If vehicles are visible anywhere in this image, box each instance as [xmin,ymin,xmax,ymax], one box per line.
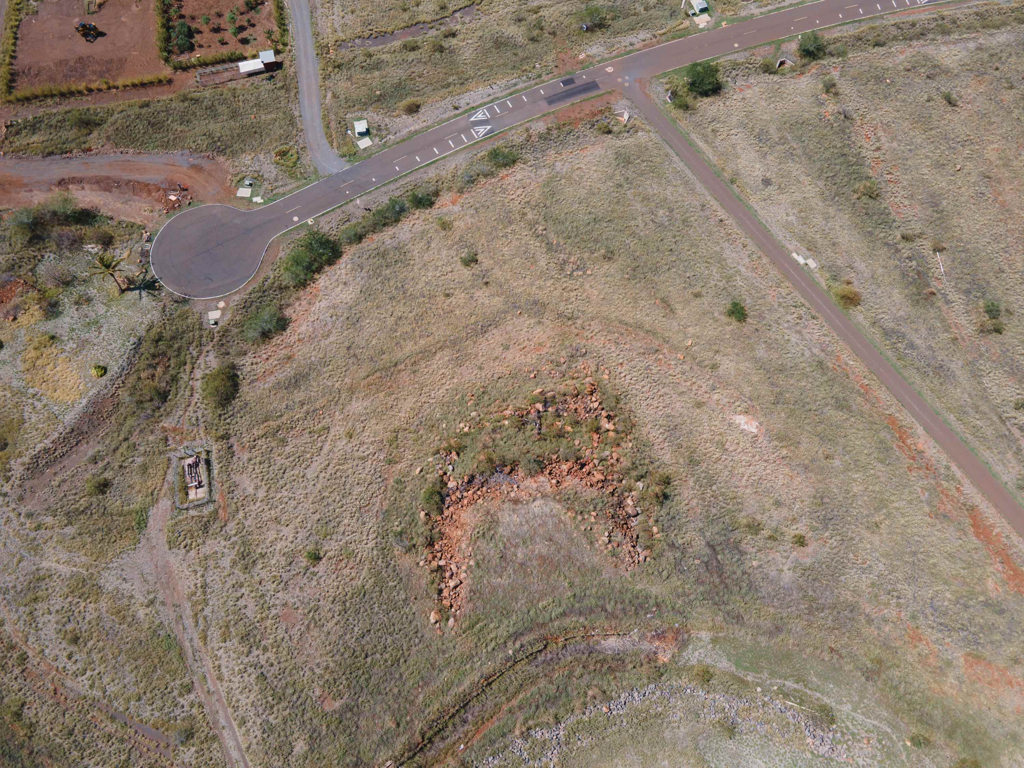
[73,11,100,44]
